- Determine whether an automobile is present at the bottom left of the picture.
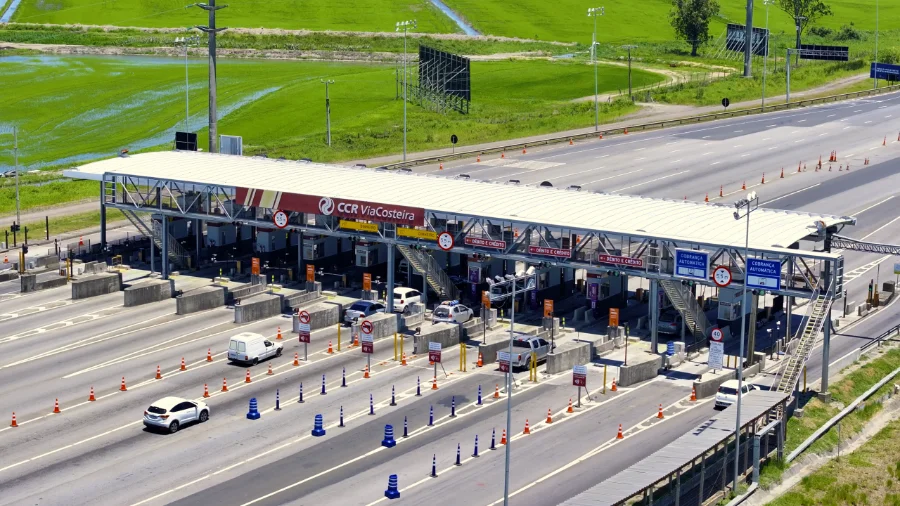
Yes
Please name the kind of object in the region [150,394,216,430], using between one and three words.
car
